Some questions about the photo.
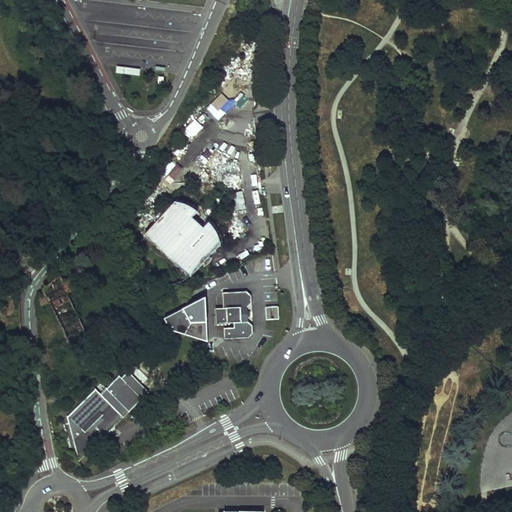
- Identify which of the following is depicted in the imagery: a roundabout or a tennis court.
roundabout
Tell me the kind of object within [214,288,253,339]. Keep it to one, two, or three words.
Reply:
building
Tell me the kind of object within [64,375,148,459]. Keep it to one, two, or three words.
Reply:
building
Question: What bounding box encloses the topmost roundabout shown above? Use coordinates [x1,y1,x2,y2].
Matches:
[258,323,378,460]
